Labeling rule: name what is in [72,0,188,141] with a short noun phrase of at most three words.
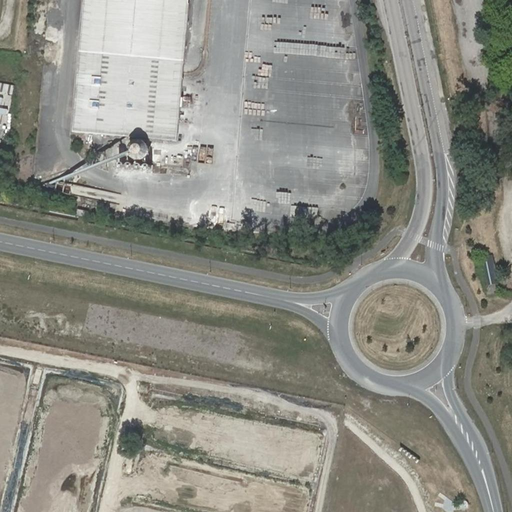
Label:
building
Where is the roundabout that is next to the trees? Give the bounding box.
[330,260,466,396]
